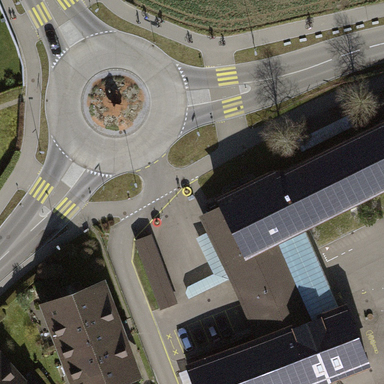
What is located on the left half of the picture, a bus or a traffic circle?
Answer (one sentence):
What appears on the left half of the picture is a traffic circle.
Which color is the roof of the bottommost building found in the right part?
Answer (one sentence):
The color of the roof on the bottommost building found in the right part is black.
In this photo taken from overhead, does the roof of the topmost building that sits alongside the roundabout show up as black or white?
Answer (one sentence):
The color of the roof of the topmost building that sits alongside the roundabout is black.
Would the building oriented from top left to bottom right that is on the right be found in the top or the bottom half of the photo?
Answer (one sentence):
It is in the bottom half that the building oriented from top left to bottom right that is on the right appears.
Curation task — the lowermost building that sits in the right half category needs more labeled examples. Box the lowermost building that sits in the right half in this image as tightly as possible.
[176,304,370,384]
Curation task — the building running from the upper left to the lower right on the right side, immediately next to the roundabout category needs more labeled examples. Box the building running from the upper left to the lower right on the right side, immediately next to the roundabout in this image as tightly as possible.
[199,210,310,330]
